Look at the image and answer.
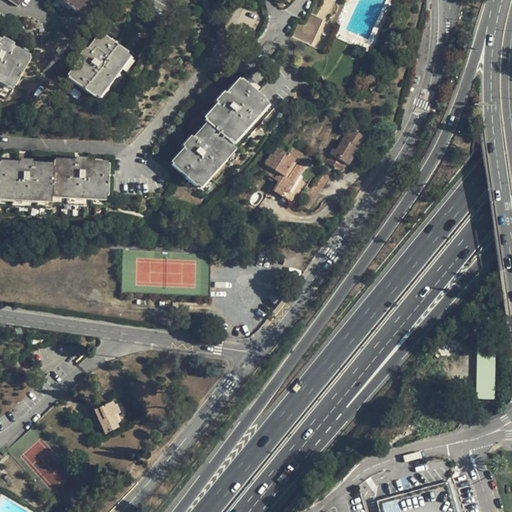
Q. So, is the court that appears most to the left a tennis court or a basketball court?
tennis court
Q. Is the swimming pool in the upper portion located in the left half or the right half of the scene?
right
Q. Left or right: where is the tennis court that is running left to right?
left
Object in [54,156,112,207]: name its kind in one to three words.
building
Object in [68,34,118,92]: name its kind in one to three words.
building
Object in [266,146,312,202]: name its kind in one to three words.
house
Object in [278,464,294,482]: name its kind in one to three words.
vehicle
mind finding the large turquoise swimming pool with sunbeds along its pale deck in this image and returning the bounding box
[336,0,386,48]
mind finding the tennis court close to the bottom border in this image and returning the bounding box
[8,426,92,510]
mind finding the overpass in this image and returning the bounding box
[474,0,512,365]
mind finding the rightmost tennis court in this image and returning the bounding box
[121,248,210,297]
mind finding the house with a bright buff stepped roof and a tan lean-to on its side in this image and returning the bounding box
[94,401,122,434]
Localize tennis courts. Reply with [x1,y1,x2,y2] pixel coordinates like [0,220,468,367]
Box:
[121,248,210,297]
[8,426,92,510]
